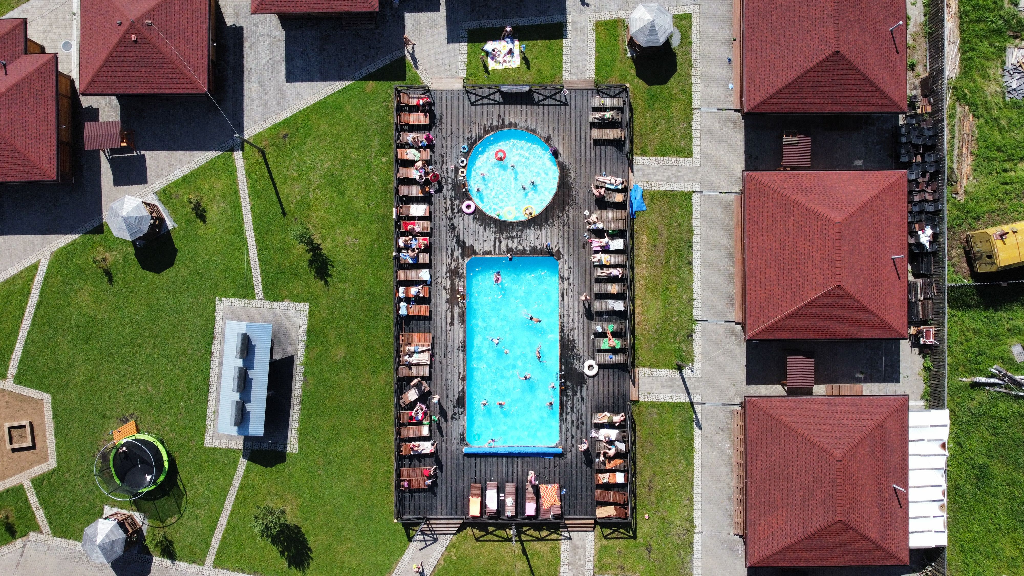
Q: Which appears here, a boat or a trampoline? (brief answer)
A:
trampoline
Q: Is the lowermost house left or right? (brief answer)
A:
right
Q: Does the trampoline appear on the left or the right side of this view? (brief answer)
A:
left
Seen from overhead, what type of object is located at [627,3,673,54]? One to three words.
gazebo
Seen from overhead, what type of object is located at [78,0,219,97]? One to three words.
house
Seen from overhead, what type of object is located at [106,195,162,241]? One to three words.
gazebo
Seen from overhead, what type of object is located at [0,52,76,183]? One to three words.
house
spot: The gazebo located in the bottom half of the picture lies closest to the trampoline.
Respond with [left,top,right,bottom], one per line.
[81,513,138,564]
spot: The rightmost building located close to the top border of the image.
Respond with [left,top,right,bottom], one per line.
[738,0,909,115]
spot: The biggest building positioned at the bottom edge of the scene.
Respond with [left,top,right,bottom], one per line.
[741,394,911,568]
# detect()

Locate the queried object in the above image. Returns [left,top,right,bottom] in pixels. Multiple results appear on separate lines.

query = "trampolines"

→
[94,434,171,500]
